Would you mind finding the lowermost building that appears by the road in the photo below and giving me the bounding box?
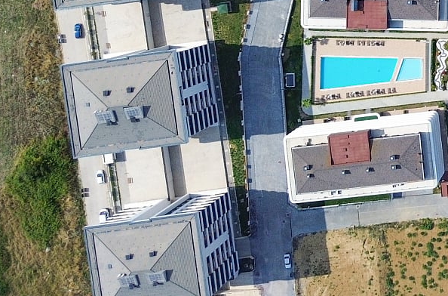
[85,192,239,296]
